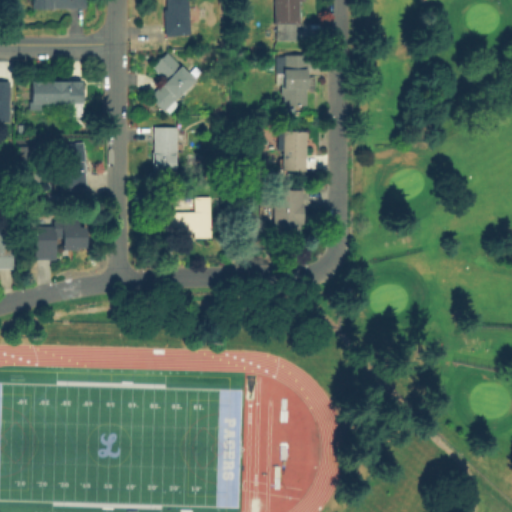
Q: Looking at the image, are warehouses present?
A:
No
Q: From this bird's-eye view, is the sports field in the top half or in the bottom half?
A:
bottom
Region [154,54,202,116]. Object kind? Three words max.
house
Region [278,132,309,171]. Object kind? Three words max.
house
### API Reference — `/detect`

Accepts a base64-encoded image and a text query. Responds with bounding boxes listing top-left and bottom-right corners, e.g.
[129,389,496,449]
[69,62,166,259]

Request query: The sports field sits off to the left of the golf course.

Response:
[0,367,244,512]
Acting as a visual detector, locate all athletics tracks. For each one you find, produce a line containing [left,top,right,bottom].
[0,345,344,512]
